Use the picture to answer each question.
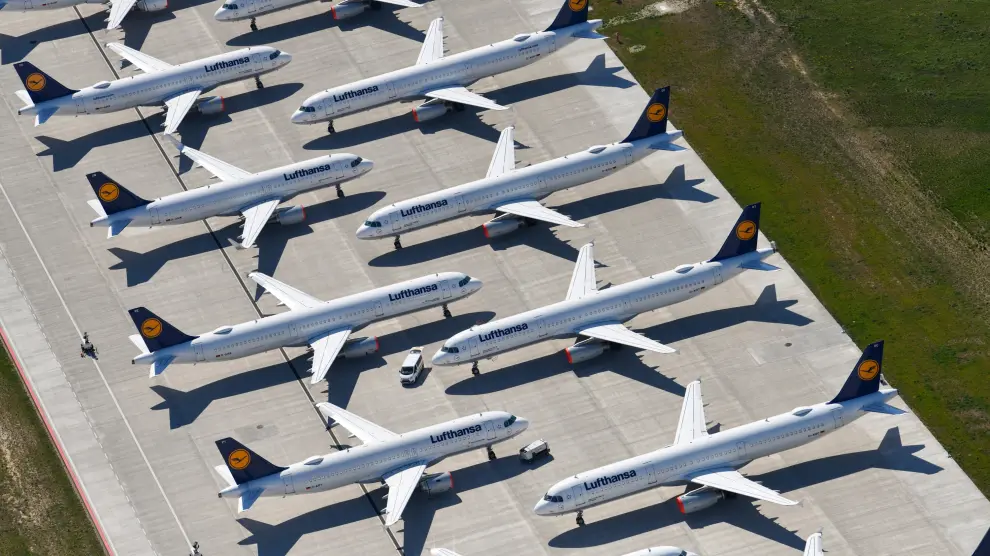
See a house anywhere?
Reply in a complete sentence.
No, no house can be seen from above.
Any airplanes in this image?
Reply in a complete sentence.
Yes, the frame does contain an airplane.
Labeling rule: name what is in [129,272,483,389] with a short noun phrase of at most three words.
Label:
airplane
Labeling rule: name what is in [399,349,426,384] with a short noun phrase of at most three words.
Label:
vehicle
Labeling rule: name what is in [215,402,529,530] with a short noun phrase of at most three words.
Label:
airplane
